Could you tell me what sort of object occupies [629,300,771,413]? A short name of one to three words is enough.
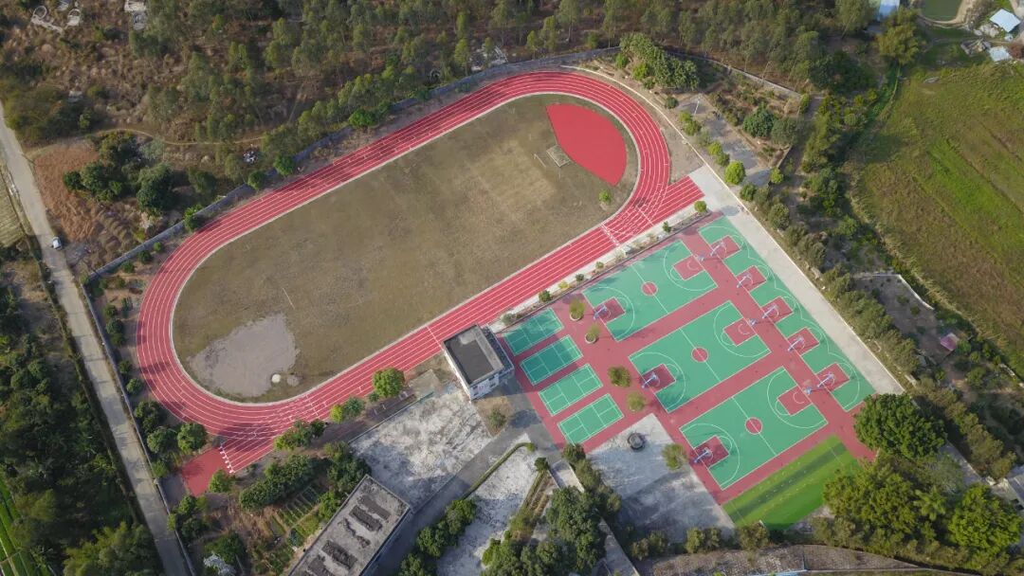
basketball court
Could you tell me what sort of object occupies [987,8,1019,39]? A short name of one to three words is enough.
shed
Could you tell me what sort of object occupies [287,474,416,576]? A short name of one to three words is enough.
building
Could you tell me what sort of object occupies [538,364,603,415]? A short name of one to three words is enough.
sports court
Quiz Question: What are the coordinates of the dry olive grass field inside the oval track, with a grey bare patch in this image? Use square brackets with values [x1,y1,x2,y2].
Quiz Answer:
[172,94,637,403]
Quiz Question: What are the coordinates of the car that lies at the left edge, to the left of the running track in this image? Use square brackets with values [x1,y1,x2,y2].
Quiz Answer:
[51,235,64,251]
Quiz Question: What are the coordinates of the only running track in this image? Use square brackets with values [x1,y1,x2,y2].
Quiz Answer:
[139,74,703,499]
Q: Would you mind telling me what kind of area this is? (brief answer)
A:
sports ground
